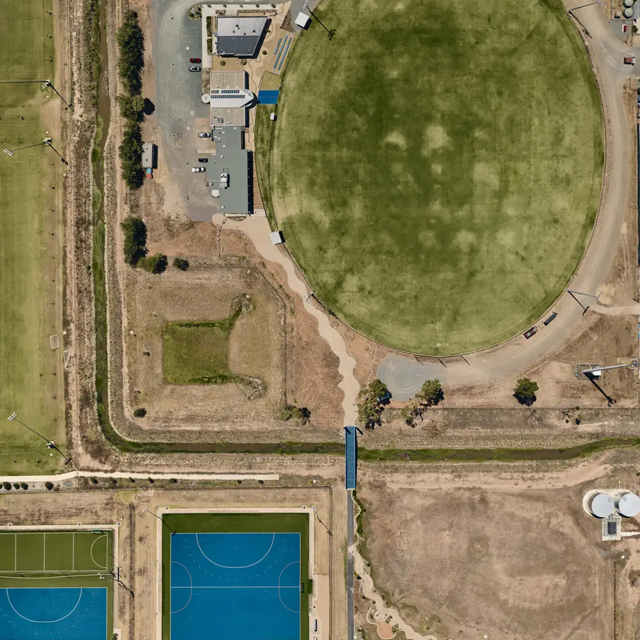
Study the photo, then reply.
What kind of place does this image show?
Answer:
sports ground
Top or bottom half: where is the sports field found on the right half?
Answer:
top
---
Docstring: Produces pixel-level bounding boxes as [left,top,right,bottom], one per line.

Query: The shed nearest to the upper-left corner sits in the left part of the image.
[142,144,156,169]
